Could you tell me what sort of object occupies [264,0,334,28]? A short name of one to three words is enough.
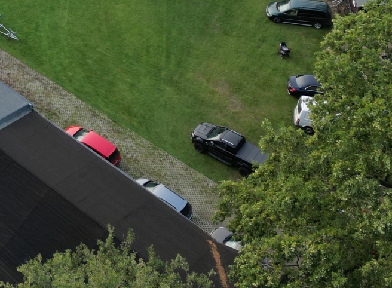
car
